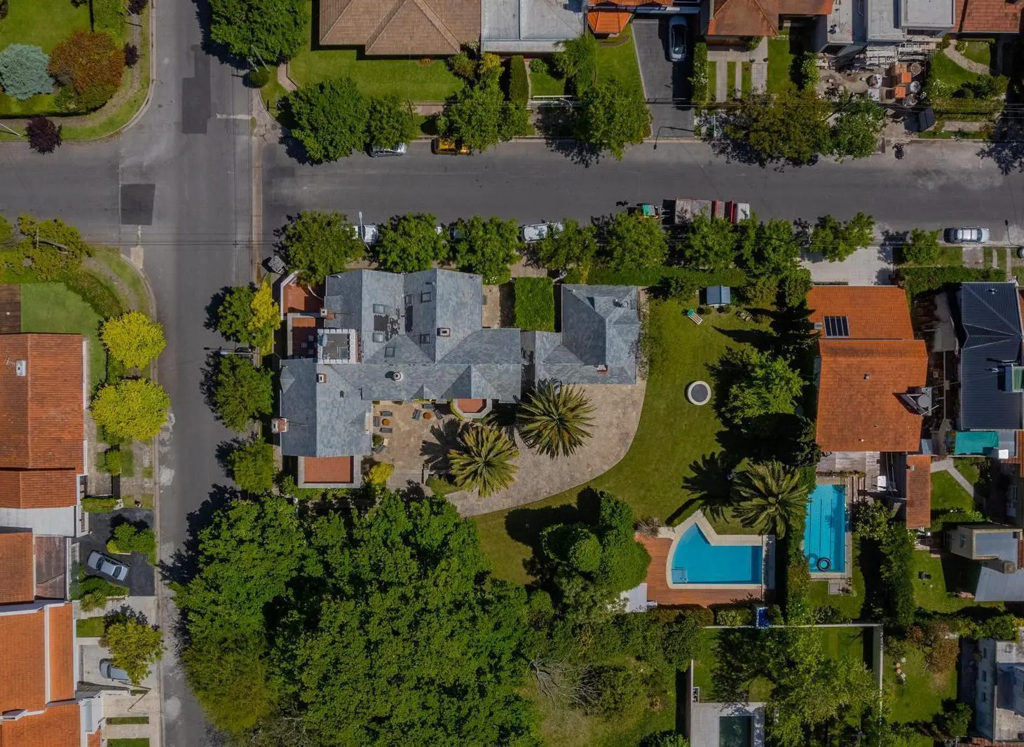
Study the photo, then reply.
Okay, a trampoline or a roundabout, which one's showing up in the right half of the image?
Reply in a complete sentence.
Looking in the right half of the image, you will find a trampoline.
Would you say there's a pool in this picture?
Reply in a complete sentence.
Yes, I can see a pool in this picture.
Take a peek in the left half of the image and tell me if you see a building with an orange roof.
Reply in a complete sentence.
Yes, a building with an orange roof shows up in the left half of the image.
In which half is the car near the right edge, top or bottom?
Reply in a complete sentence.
The car near the right edge is in the top half of the image.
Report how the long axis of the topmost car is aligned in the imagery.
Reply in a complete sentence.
Seen from above, the topmost car lies from top to bottom.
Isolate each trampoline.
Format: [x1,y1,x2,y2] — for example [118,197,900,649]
[687,381,711,405]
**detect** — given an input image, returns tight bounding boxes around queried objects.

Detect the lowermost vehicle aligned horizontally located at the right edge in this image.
[943,226,988,246]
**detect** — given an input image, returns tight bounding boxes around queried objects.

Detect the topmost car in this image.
[668,16,688,62]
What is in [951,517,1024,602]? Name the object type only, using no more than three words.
house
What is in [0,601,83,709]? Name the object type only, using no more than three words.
house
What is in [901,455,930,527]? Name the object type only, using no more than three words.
shed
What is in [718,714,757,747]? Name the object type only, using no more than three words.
swimming pool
